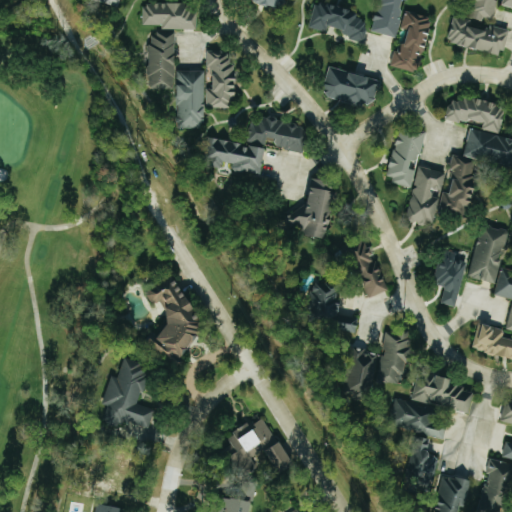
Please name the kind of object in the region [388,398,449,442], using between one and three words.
house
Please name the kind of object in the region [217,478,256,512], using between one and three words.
house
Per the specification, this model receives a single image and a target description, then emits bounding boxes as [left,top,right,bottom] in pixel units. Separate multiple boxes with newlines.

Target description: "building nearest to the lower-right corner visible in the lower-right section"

[484,458,510,509]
